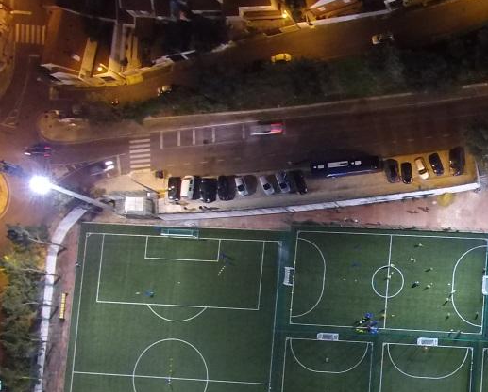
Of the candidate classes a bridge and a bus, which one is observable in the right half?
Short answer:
bus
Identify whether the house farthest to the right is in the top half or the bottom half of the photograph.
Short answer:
top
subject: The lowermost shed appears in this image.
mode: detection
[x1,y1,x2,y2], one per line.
[111,191,159,216]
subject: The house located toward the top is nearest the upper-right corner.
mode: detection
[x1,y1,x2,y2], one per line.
[295,0,394,27]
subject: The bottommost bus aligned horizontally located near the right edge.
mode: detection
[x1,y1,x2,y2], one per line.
[310,153,476,198]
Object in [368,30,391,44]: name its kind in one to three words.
car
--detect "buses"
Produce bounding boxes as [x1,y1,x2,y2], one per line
[305,153,380,176]
[310,153,476,198]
